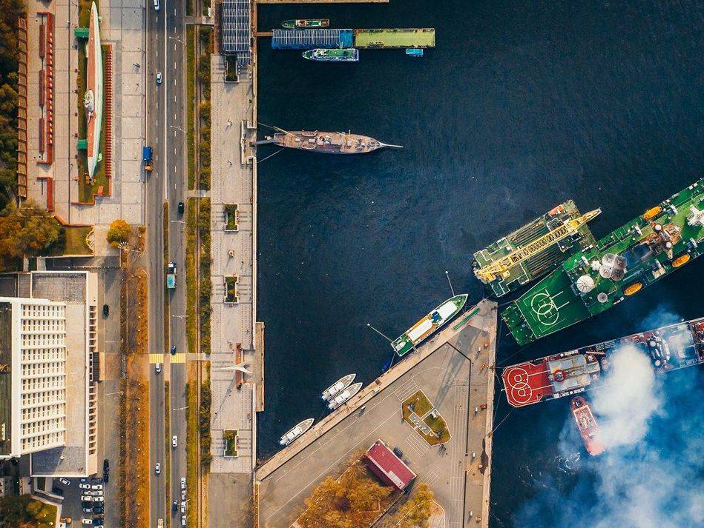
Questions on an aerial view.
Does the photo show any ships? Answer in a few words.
Yes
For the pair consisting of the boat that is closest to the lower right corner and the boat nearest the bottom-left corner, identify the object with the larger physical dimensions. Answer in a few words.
the boat that is closest to the lower right corner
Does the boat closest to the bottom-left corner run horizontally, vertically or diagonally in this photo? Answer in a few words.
diagonally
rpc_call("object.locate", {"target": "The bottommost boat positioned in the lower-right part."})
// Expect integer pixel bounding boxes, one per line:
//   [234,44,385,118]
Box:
[573,397,606,460]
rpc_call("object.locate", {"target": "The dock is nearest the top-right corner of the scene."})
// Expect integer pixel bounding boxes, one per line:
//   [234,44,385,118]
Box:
[354,28,436,49]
